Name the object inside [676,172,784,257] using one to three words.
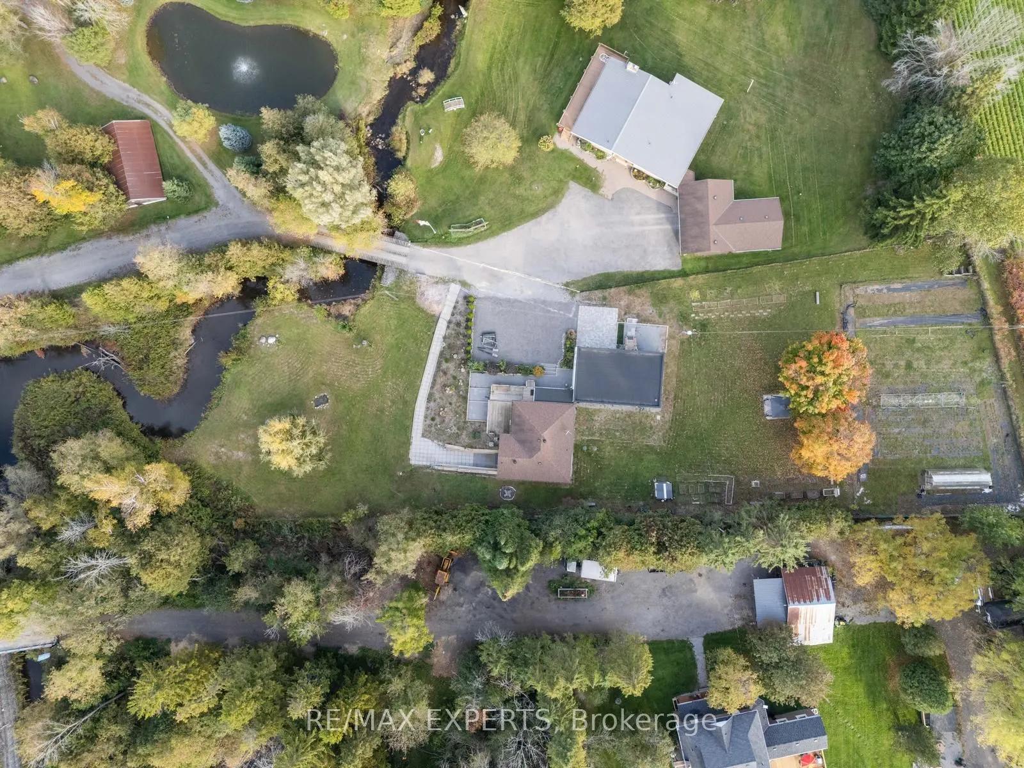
building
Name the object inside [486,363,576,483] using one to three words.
house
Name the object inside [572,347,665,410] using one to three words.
building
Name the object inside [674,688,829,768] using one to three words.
house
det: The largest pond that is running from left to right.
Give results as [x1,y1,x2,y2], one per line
[151,6,336,113]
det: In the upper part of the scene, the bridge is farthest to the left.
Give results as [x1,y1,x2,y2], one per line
[310,232,410,269]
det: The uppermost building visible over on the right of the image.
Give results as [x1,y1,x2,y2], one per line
[557,40,724,196]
